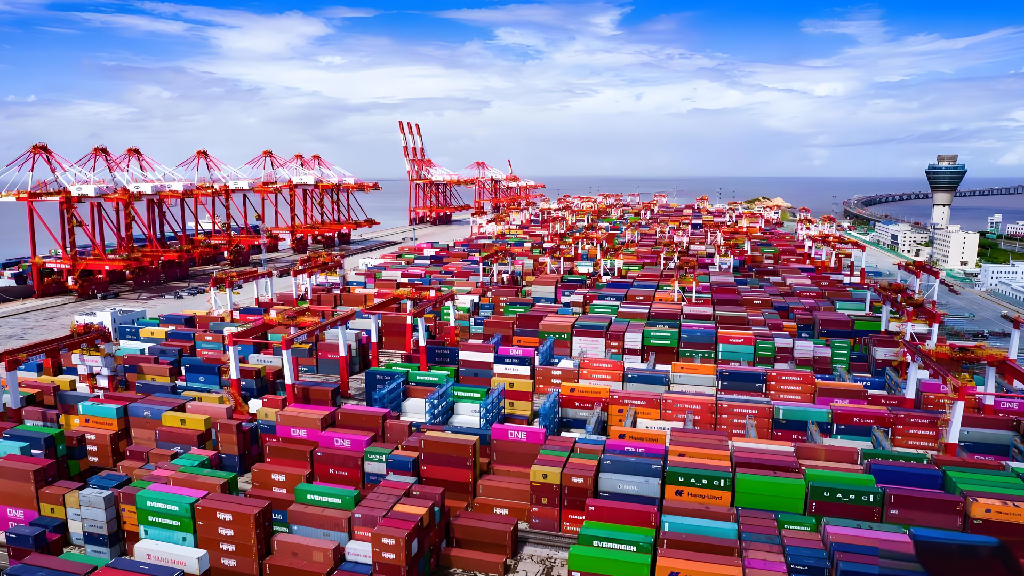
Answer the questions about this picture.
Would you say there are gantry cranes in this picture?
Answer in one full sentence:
Yes, there's a gantry crane here.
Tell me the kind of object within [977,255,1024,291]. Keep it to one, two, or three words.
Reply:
building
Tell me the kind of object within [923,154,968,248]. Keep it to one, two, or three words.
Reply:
building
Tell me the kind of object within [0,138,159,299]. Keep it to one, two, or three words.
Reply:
container crane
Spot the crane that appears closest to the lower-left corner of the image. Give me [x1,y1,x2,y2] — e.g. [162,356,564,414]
[0,309,123,423]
